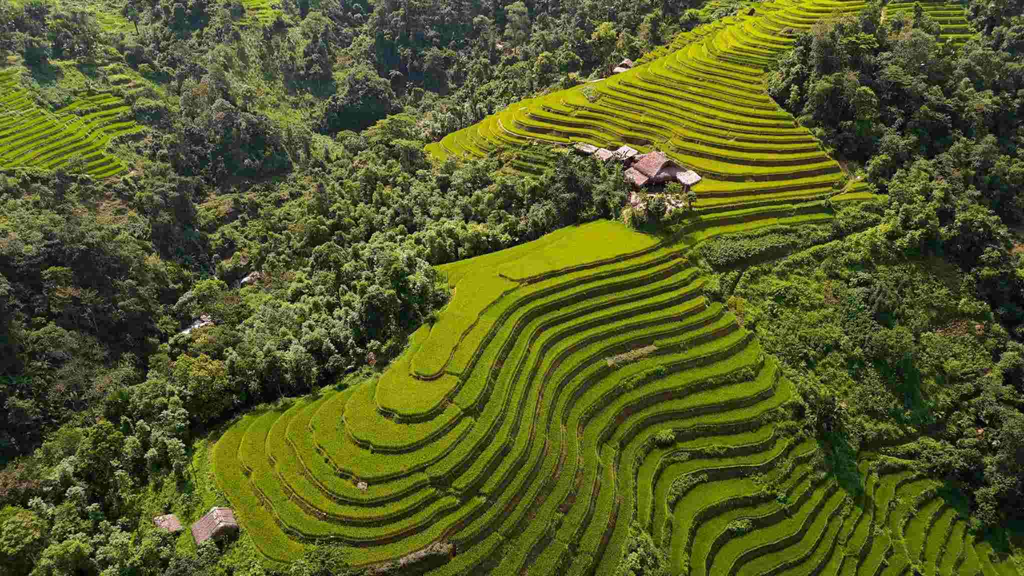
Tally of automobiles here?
0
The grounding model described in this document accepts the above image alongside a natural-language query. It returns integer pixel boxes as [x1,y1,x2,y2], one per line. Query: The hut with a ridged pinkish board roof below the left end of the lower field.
[190,506,237,566]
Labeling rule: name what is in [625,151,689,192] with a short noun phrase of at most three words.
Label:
house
